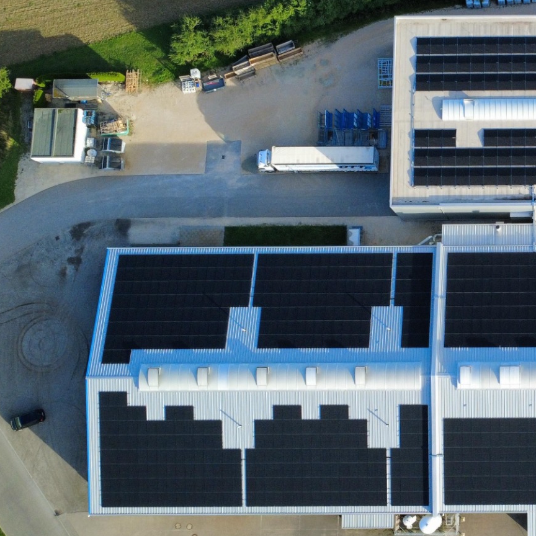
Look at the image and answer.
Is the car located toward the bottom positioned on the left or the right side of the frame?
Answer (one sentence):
The car located toward the bottom appears in the left half of the scene.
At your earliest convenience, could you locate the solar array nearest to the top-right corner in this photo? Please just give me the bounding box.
[414,36,536,93]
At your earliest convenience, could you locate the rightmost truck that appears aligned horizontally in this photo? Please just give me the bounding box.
[257,145,383,173]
